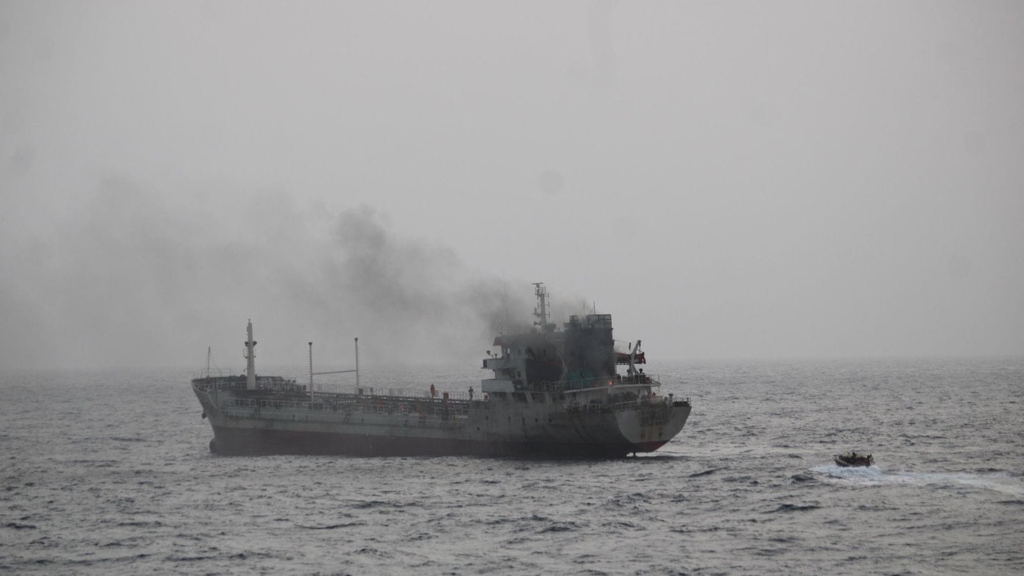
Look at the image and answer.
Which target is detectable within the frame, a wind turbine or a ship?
ship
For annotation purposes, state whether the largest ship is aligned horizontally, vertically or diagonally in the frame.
horizontally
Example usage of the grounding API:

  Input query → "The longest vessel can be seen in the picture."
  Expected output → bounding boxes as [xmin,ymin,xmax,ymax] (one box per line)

[190,279,692,458]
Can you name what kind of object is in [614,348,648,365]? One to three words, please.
boat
